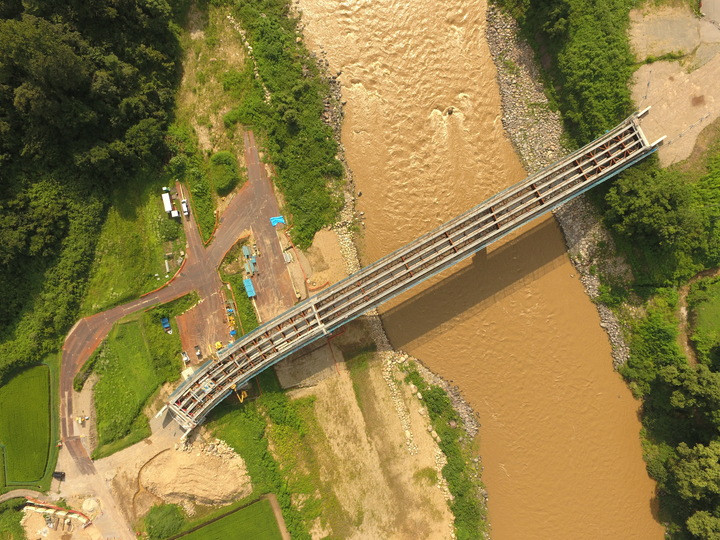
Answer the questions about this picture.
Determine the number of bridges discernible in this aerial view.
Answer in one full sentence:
The count comes to 1 bridge.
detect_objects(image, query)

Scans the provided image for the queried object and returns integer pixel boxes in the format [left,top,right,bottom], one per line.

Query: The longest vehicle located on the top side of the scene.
[158,185,171,213]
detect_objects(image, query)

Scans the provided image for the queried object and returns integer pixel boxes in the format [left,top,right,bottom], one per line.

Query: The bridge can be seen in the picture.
[157,105,667,438]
